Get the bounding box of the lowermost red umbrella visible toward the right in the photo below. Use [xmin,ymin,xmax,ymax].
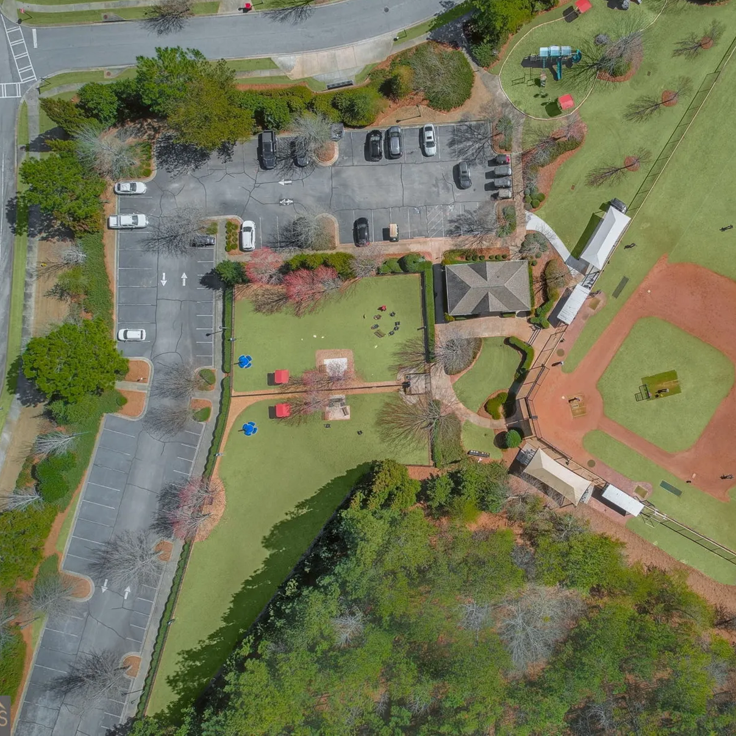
[557,92,576,112]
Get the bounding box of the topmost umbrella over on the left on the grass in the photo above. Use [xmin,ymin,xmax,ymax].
[275,369,291,383]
